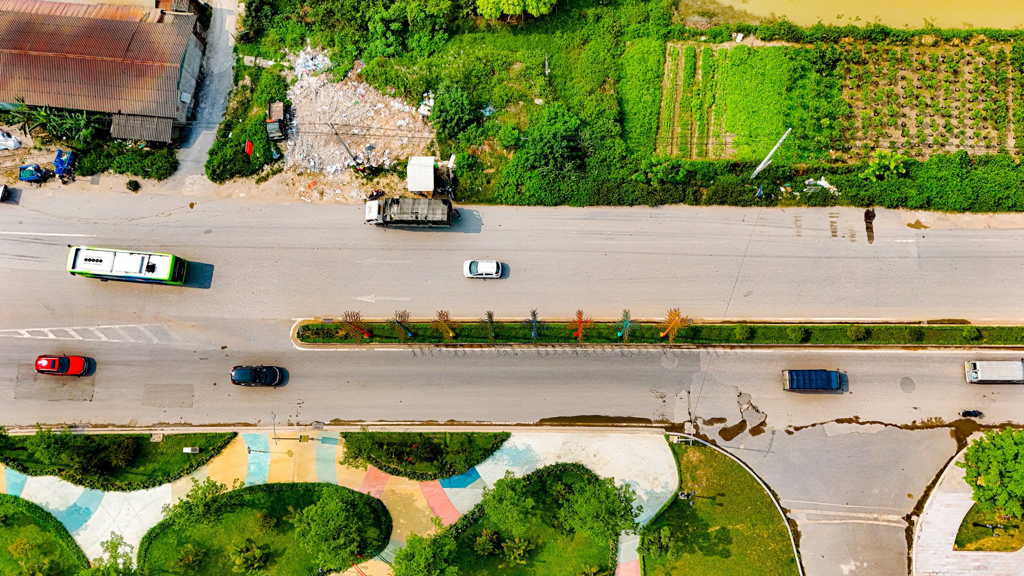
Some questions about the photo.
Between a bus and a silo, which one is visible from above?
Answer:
bus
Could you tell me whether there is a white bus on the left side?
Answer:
Yes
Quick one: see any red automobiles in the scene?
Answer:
Yes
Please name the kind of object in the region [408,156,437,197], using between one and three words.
shed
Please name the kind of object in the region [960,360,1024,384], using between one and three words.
vehicle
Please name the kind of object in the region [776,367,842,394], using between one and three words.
truck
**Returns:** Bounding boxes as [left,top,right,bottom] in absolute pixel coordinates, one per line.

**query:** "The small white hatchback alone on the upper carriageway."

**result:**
[464,257,502,279]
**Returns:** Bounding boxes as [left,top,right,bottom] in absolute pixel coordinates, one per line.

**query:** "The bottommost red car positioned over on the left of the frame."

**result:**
[32,352,91,377]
